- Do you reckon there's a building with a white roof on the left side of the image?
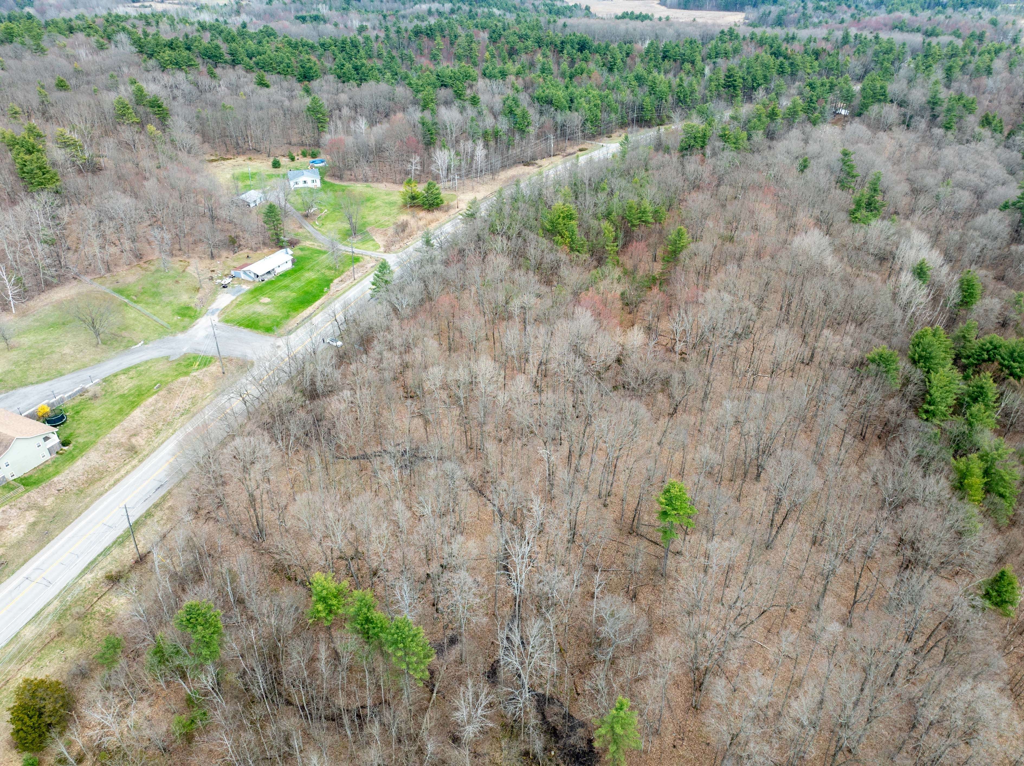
Yes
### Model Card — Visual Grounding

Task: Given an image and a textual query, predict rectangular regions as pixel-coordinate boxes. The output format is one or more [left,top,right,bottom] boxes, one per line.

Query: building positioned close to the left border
[0,408,65,481]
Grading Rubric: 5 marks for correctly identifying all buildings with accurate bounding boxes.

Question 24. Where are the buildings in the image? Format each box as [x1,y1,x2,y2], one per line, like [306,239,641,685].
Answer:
[285,170,322,187]
[232,252,297,282]
[229,191,267,208]
[0,408,65,481]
